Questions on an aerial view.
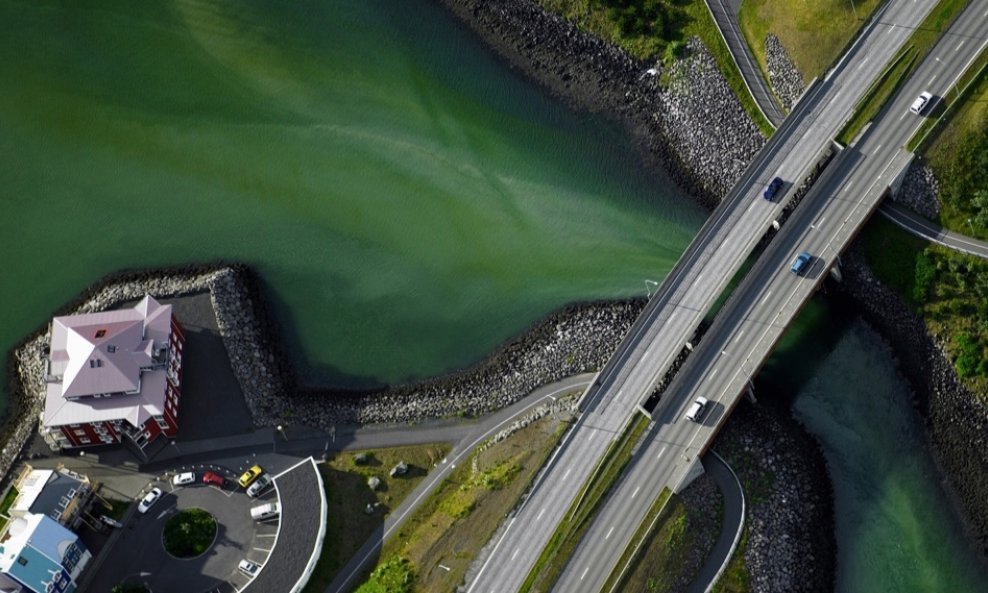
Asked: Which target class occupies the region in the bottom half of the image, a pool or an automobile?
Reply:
automobile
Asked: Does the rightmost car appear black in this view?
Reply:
No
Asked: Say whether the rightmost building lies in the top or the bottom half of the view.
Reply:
bottom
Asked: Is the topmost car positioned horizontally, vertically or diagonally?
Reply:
diagonally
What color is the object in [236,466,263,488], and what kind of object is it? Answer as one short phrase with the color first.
yellow car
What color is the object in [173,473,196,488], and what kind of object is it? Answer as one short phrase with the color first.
white car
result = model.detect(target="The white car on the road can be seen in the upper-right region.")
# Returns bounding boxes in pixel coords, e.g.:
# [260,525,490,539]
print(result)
[911,92,932,117]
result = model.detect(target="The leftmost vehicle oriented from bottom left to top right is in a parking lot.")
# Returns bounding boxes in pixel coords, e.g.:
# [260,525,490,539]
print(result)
[137,490,163,514]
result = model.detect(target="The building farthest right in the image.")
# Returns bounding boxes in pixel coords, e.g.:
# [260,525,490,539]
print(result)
[235,456,327,593]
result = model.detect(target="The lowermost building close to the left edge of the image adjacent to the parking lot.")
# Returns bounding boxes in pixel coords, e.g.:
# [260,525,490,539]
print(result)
[0,511,97,593]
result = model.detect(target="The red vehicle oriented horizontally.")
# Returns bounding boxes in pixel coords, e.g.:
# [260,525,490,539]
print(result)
[202,473,227,488]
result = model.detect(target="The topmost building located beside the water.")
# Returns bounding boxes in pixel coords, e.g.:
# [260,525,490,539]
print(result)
[38,298,178,471]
